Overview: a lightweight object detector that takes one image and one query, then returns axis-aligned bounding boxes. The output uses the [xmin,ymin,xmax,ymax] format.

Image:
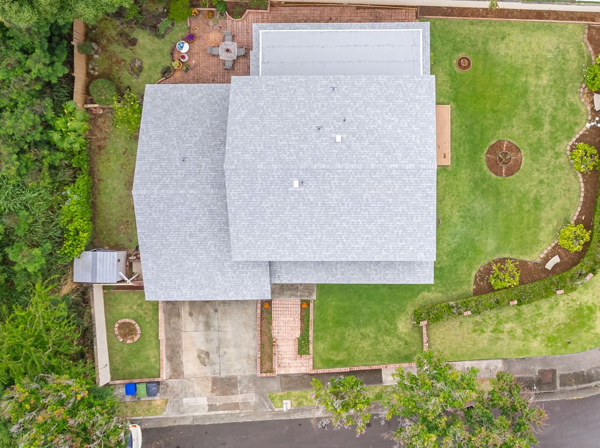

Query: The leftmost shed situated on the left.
[74,251,131,283]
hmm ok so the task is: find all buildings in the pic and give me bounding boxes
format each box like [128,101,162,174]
[74,251,131,283]
[132,22,437,301]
